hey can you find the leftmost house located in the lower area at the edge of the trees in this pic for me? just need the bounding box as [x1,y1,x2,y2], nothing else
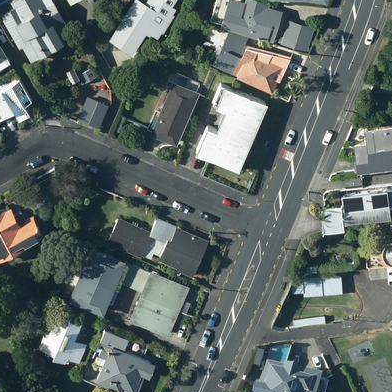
[0,208,38,262]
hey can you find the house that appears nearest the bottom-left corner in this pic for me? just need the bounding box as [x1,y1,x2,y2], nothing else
[38,323,87,365]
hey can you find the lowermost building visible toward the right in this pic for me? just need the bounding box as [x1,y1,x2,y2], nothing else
[252,358,330,392]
